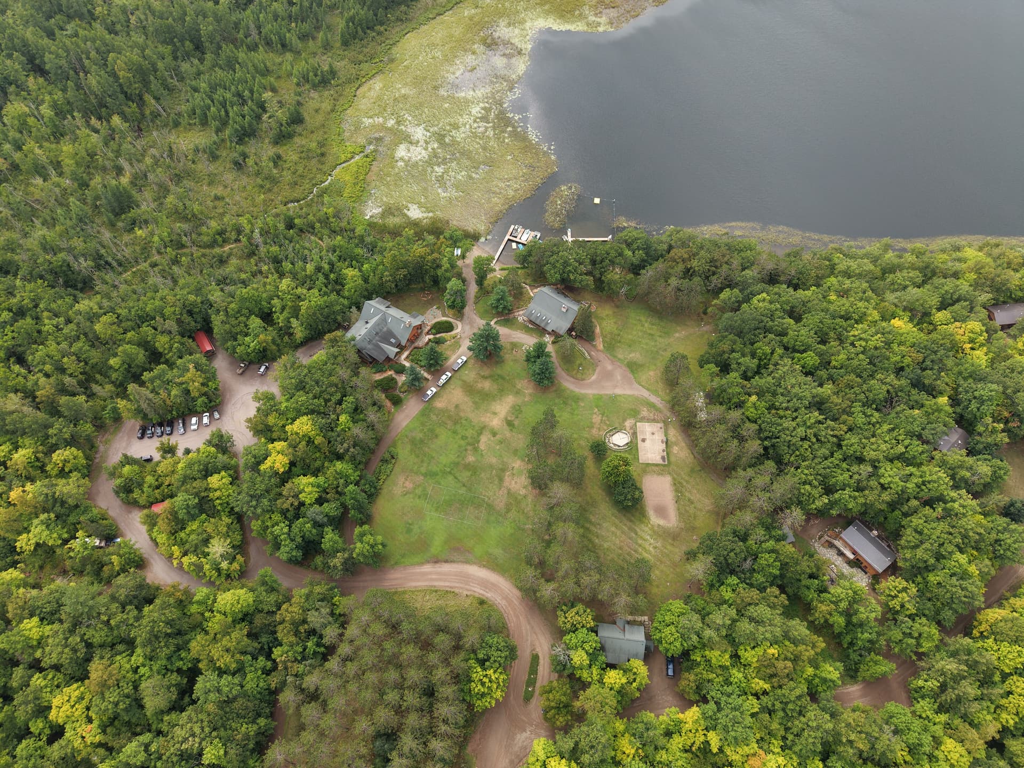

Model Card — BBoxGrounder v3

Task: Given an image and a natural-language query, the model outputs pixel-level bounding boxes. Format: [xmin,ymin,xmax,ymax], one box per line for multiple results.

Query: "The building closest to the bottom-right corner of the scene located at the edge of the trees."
[818,521,896,575]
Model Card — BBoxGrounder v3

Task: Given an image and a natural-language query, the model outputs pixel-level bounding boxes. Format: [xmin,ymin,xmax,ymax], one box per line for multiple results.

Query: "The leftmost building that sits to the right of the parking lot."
[344,297,432,367]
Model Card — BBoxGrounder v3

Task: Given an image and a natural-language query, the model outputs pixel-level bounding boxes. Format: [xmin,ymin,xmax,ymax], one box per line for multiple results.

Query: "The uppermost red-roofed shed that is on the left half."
[195,331,218,360]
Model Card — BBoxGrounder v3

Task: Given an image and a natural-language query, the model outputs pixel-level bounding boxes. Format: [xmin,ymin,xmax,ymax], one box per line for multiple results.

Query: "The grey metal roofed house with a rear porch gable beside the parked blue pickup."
[596,617,653,667]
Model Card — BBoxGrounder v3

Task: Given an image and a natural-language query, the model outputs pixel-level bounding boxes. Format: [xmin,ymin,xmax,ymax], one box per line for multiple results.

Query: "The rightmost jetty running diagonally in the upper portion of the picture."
[491,225,534,266]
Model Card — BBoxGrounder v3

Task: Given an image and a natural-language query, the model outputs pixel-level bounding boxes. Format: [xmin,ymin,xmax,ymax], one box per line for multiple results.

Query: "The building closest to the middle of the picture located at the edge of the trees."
[523,286,584,339]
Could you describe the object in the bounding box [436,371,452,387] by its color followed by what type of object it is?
white vehicle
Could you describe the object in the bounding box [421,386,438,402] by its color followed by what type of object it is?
white vehicle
